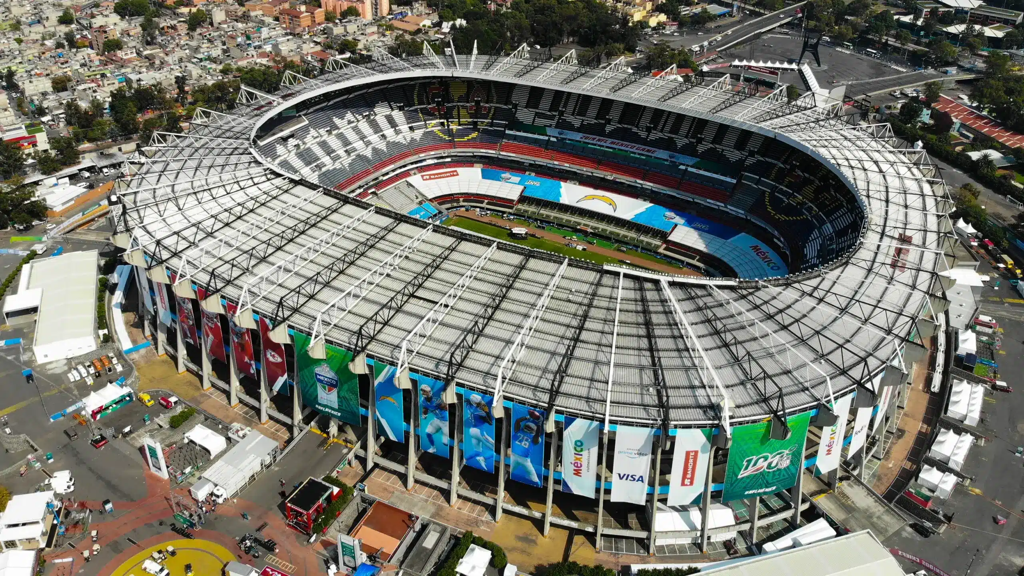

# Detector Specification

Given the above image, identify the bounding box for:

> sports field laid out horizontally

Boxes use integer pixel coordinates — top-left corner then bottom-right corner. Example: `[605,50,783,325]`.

[443,222,651,268]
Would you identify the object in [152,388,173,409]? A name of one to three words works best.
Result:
truck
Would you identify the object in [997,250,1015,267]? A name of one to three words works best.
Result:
vehicle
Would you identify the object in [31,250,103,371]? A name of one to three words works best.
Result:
building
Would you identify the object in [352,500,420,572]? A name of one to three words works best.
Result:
building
